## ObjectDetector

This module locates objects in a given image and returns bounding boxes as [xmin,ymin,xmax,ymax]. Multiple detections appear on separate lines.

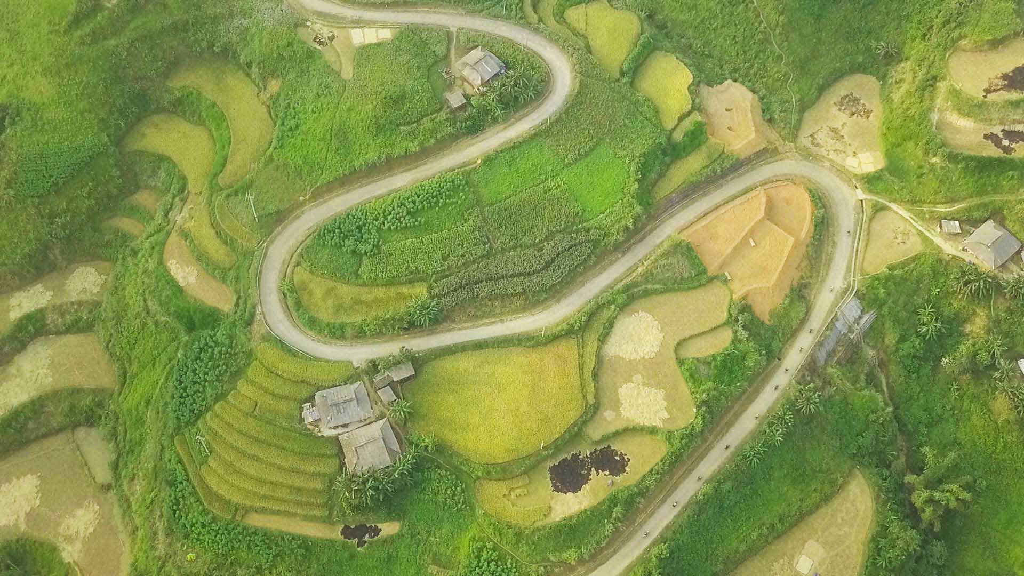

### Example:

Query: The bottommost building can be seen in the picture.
[339,417,401,474]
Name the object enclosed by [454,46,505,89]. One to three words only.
house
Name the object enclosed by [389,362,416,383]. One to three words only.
shed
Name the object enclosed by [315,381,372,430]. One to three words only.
house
